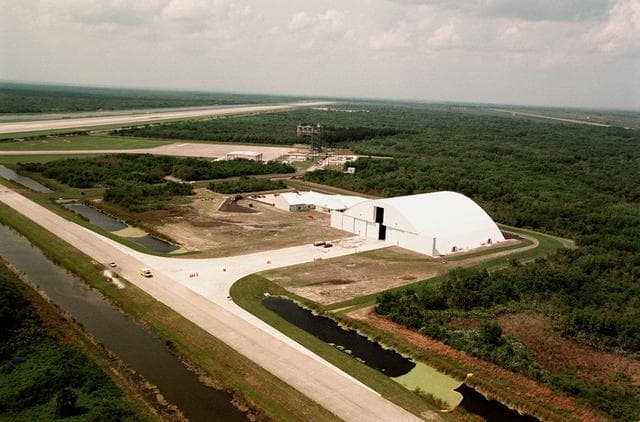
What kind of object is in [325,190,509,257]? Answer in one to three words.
hangar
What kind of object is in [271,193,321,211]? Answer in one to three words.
building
